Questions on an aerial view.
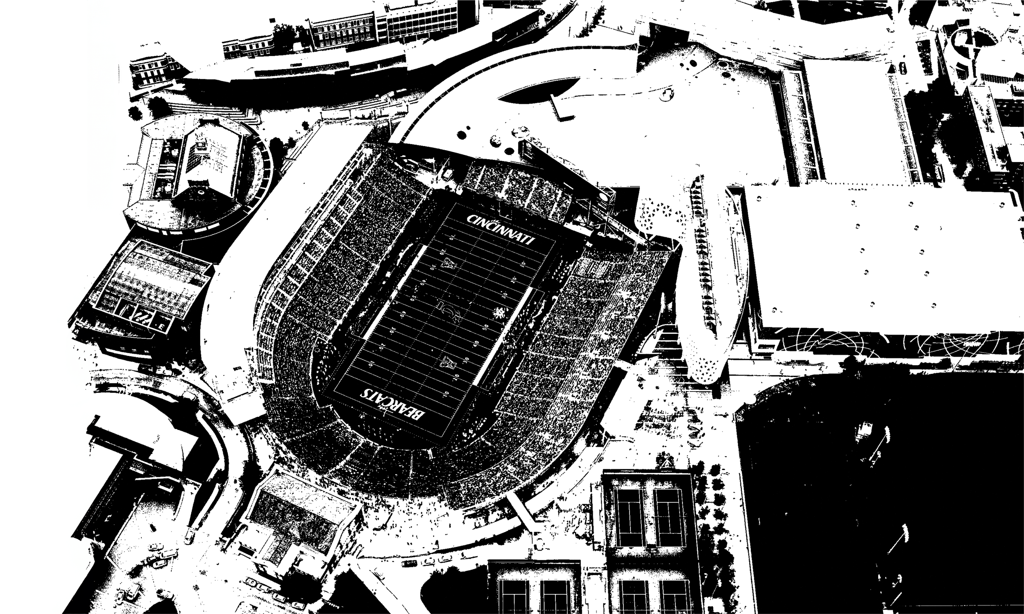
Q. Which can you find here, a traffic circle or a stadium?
stadium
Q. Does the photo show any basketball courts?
No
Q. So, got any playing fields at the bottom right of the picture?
Yes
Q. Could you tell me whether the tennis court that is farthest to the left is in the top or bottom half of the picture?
bottom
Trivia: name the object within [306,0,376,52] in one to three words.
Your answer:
building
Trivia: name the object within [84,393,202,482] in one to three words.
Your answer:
building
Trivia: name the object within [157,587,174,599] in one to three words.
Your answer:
vehicle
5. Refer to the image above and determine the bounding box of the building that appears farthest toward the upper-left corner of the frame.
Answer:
[123,32,170,81]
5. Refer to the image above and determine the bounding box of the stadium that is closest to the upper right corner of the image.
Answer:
[739,180,1024,360]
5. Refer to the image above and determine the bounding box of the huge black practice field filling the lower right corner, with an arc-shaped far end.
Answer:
[735,372,1024,614]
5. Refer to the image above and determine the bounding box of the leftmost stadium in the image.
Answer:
[200,125,676,511]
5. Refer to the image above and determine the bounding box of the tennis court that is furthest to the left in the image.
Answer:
[498,580,531,614]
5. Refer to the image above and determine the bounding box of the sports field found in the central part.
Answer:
[309,179,586,478]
